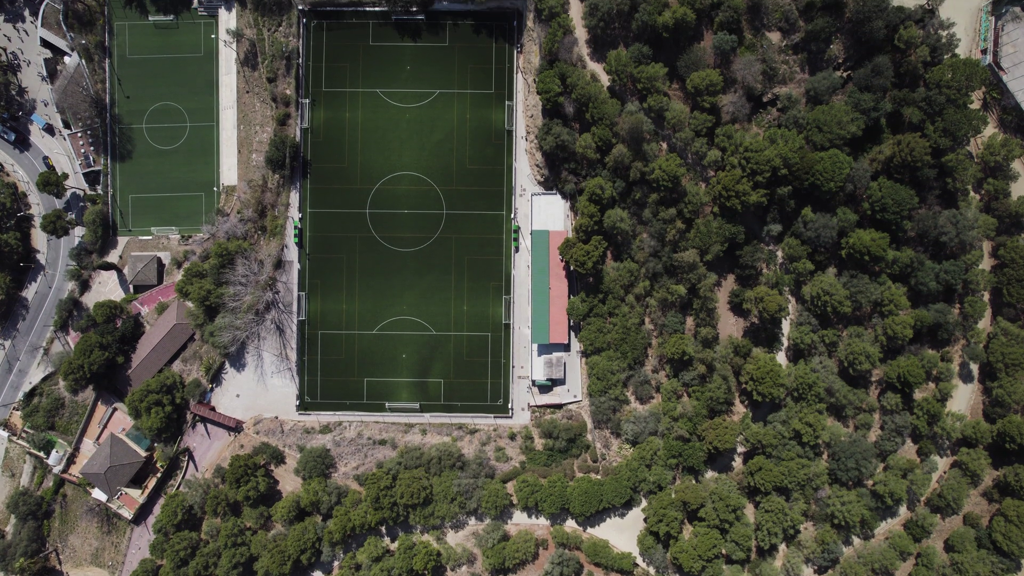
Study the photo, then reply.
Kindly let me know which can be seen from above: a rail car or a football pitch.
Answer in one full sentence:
I can see a football pitch in this picture.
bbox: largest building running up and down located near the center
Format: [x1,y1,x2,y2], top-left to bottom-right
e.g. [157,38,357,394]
[530,192,571,344]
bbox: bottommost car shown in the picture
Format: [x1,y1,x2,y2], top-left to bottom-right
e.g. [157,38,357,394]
[40,153,55,172]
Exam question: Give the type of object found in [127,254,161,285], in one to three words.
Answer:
house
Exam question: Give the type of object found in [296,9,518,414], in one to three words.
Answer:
soccer field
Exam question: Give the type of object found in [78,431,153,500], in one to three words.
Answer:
house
